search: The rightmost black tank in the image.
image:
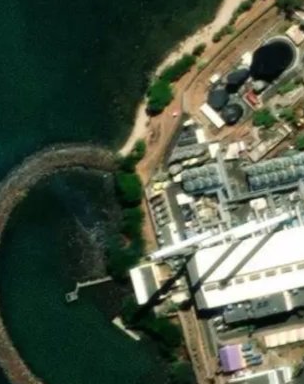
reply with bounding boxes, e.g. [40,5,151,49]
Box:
[252,39,295,77]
